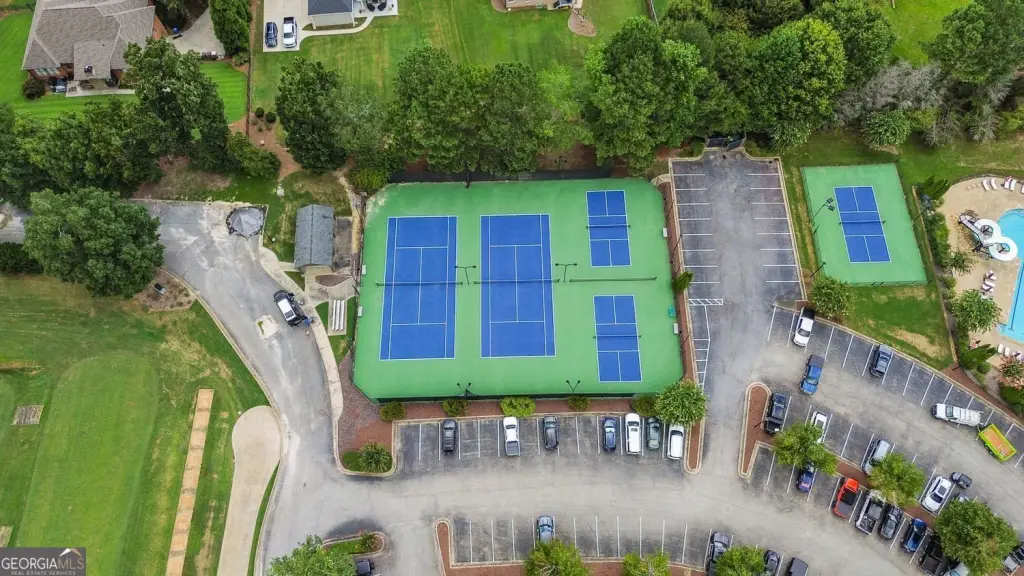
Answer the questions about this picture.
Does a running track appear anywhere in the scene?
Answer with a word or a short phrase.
No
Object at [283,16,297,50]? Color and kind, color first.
white vehicle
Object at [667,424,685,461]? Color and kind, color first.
white car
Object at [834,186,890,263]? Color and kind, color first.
blue sports court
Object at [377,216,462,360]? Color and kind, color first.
blue tennis court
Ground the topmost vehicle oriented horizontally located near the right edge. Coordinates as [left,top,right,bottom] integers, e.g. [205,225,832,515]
[930,404,988,428]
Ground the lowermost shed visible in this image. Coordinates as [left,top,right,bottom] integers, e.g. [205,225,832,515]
[293,204,334,265]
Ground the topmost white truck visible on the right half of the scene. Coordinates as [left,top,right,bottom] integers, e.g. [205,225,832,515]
[793,305,816,349]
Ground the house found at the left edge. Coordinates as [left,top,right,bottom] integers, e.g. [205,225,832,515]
[21,0,159,90]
